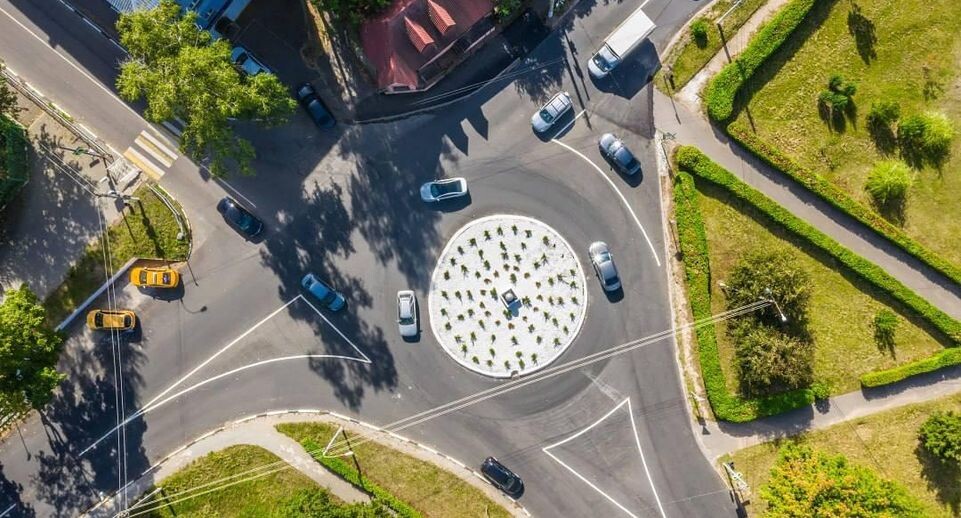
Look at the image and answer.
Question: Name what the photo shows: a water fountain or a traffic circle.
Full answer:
I can see a traffic circle in this picture.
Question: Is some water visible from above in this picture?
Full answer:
No, there is no water in the image.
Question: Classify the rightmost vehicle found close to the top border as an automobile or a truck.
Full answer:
The rightmost vehicle found close to the top border in the image is a truck.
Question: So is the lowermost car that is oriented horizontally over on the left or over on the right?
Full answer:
It is on the left.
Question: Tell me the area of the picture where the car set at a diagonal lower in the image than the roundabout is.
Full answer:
Look in the bottom portion of the view to spot the car set at a diagonal lower in the image than the roundabout.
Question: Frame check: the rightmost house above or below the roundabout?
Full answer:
The rightmost house is located above the roundabout in this view.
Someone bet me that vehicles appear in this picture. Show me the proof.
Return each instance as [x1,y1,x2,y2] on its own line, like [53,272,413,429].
[589,241,619,290]
[419,179,466,201]
[228,44,271,82]
[216,196,263,236]
[131,266,180,288]
[480,457,523,497]
[396,291,418,335]
[530,92,574,131]
[297,82,337,129]
[87,309,136,331]
[601,131,641,175]
[593,6,658,71]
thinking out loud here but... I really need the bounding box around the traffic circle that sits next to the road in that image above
[429,217,588,377]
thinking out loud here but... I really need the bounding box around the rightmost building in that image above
[360,0,539,99]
